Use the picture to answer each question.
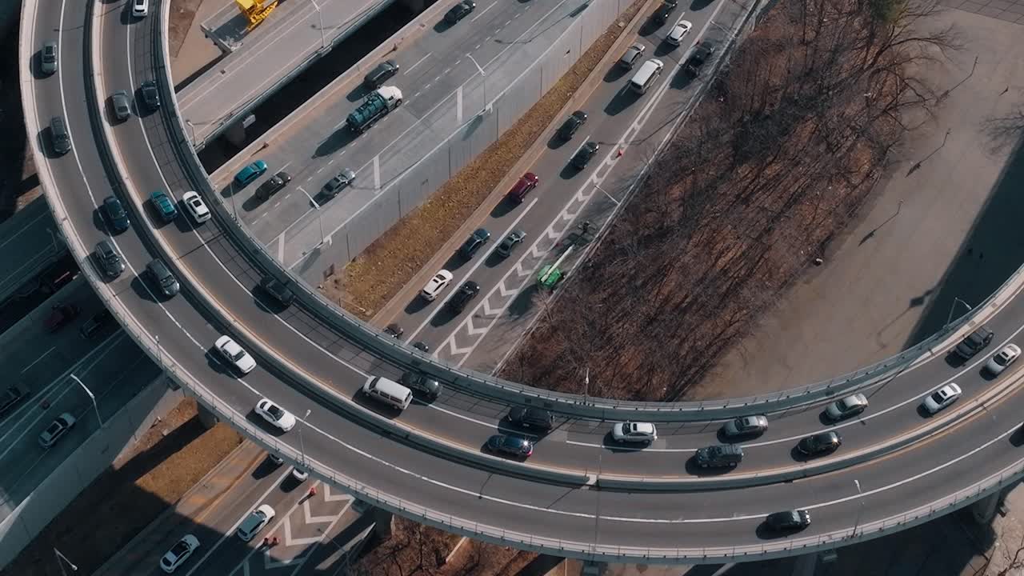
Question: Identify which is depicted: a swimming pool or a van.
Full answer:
Visible in the photo is a van.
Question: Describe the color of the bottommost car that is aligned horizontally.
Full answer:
From above, the bottommost car that is aligned horizontally appears black.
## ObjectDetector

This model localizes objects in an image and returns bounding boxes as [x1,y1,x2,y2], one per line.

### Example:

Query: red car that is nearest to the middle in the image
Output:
[506,171,540,204]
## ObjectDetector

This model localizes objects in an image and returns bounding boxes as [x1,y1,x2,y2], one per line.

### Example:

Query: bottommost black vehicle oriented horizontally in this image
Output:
[760,509,810,535]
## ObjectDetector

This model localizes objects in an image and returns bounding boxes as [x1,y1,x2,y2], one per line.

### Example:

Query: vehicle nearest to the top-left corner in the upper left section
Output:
[39,41,59,76]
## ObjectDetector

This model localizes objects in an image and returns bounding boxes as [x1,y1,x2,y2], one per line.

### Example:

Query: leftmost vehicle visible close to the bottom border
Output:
[159,533,200,573]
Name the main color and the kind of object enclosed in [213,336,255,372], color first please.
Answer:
white car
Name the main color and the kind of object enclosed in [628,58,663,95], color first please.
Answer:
white van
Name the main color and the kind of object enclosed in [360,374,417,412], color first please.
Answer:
white van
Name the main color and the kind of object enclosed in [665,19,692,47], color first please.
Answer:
white car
